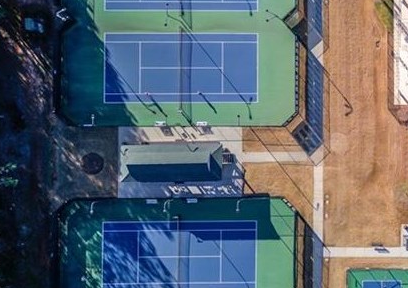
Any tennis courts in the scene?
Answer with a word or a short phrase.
Yes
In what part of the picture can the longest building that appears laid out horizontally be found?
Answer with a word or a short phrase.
center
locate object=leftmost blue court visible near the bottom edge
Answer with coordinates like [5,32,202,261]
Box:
[57,199,295,288]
